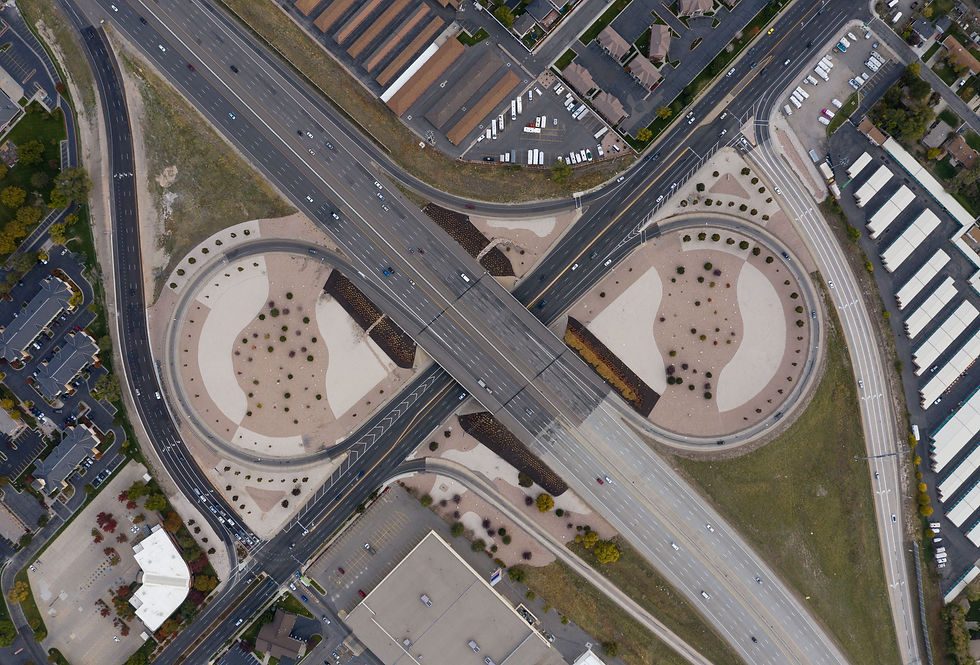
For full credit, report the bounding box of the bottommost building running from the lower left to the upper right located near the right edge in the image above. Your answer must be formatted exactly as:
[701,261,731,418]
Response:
[942,559,980,604]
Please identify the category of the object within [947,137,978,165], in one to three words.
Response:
house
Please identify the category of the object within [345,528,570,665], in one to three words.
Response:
building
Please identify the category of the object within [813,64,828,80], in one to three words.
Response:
vehicle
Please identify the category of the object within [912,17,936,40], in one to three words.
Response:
house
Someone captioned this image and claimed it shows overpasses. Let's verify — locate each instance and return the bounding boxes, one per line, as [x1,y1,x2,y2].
[412,264,586,439]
